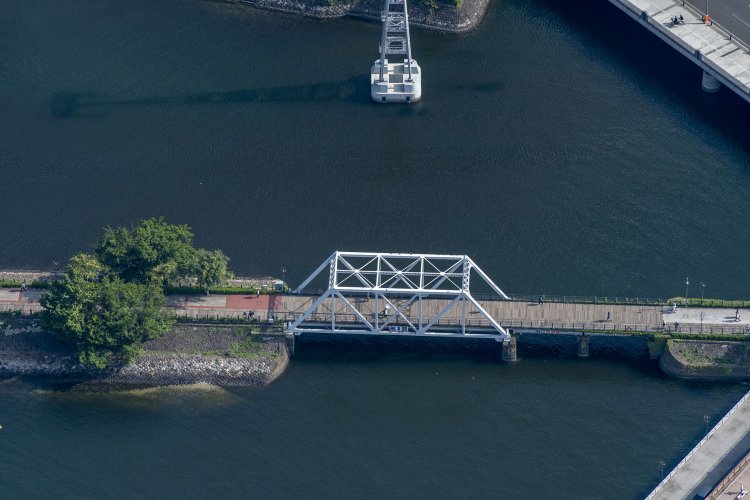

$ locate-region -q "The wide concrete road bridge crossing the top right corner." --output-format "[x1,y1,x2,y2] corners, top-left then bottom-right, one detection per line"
[584,0,750,103]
